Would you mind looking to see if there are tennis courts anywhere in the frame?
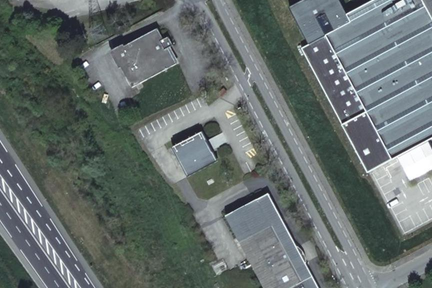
No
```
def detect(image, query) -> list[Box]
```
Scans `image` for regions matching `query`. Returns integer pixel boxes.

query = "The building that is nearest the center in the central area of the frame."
[172,132,216,176]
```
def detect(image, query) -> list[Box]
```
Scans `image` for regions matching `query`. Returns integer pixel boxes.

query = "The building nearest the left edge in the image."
[111,28,178,88]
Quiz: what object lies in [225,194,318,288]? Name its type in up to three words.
building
